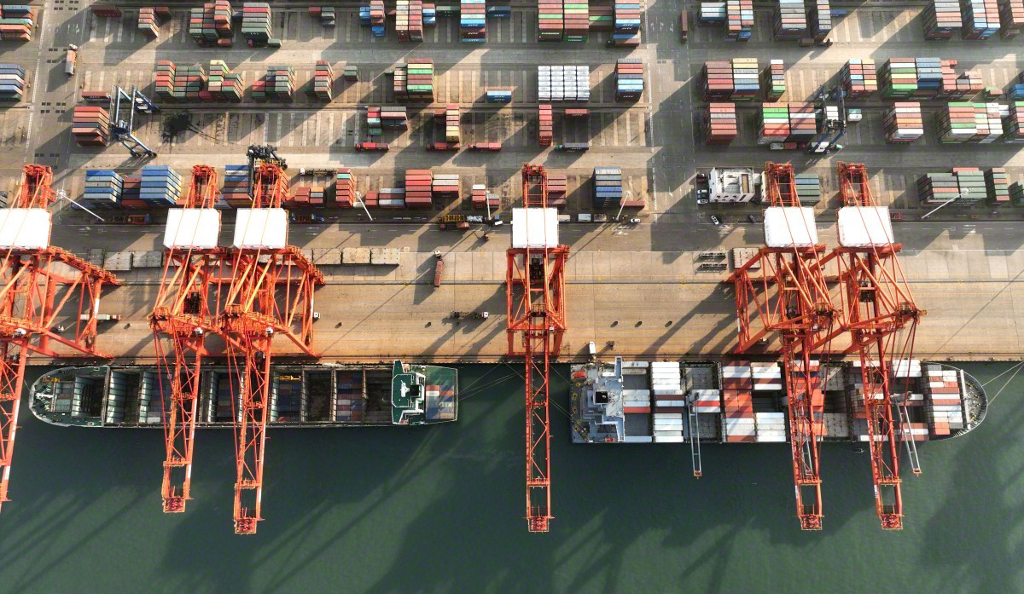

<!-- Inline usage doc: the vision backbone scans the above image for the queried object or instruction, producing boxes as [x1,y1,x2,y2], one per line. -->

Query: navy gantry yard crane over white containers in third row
[805,81,848,152]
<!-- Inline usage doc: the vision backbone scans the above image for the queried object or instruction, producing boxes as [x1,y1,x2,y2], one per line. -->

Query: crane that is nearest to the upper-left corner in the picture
[111,86,162,155]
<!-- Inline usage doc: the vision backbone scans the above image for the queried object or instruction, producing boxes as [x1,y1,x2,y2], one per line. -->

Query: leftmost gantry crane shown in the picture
[0,164,125,517]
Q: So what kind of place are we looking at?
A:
port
